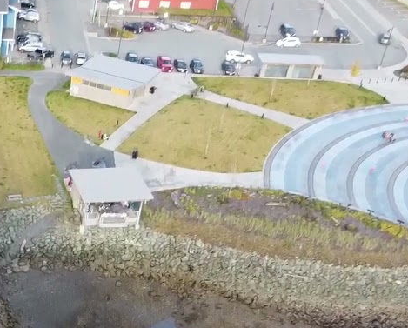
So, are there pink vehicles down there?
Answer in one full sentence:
Yes, I can see a pink vehicle in this picture.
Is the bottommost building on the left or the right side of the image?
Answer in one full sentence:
It is on the left.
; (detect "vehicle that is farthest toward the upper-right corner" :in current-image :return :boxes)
[376,31,394,46]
